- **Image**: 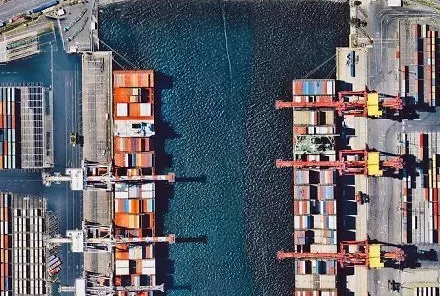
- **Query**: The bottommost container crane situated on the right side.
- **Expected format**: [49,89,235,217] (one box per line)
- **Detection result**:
[274,239,407,273]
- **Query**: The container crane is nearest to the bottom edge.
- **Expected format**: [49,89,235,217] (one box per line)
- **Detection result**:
[56,273,165,296]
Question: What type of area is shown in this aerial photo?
port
